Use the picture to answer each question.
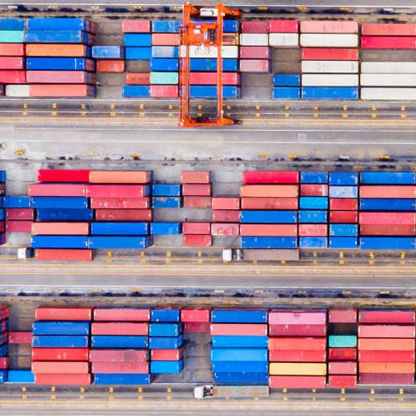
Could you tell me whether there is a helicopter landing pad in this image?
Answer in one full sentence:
No, I find no helicopter landing pad anywhere in the image.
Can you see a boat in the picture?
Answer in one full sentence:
No, there isn't any boat down there.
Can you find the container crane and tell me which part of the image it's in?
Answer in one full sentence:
Look in the top portion of the view to spot the container crane.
